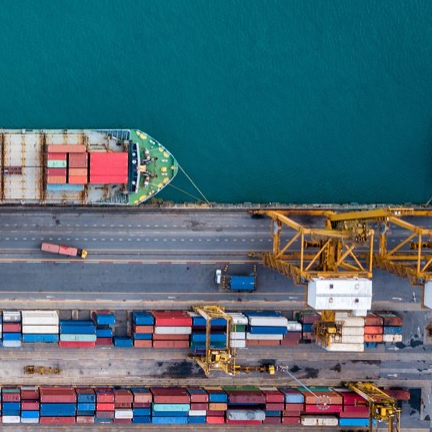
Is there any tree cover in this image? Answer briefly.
No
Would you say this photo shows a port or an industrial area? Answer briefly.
port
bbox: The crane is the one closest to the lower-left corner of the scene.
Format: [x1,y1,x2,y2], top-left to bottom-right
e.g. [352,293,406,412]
[193,307,236,377]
